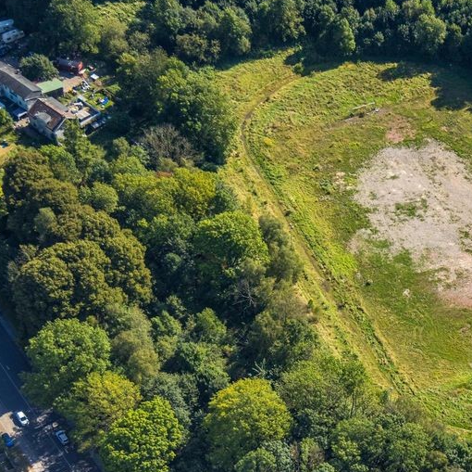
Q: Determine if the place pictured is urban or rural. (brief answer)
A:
rural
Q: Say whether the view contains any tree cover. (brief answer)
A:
Yes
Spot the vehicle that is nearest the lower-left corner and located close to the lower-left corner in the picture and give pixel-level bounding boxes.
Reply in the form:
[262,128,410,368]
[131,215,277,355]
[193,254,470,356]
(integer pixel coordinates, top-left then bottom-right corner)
[1,431,15,448]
